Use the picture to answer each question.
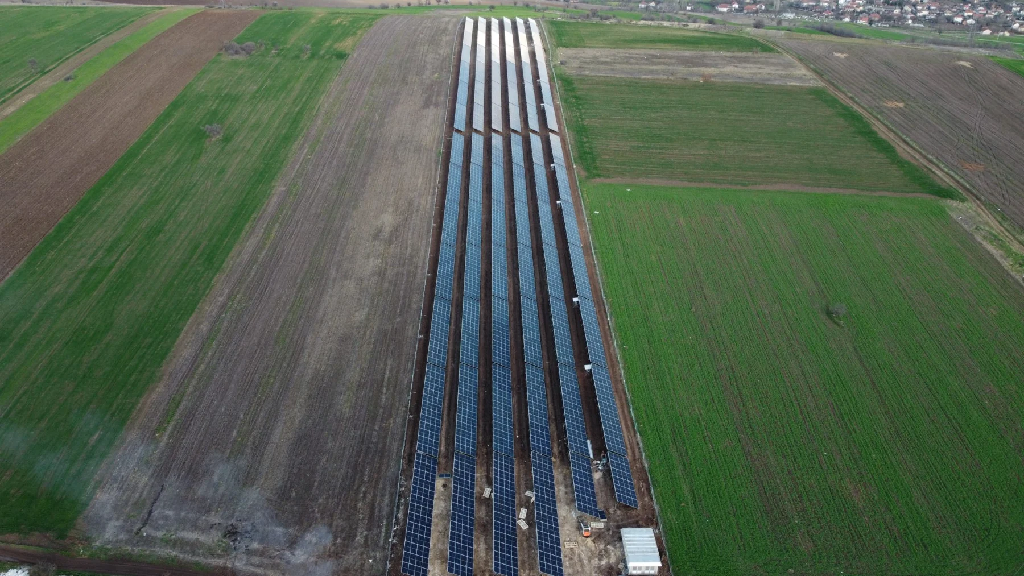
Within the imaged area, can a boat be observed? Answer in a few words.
No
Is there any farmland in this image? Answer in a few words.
Yes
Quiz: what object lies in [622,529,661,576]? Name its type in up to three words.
building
